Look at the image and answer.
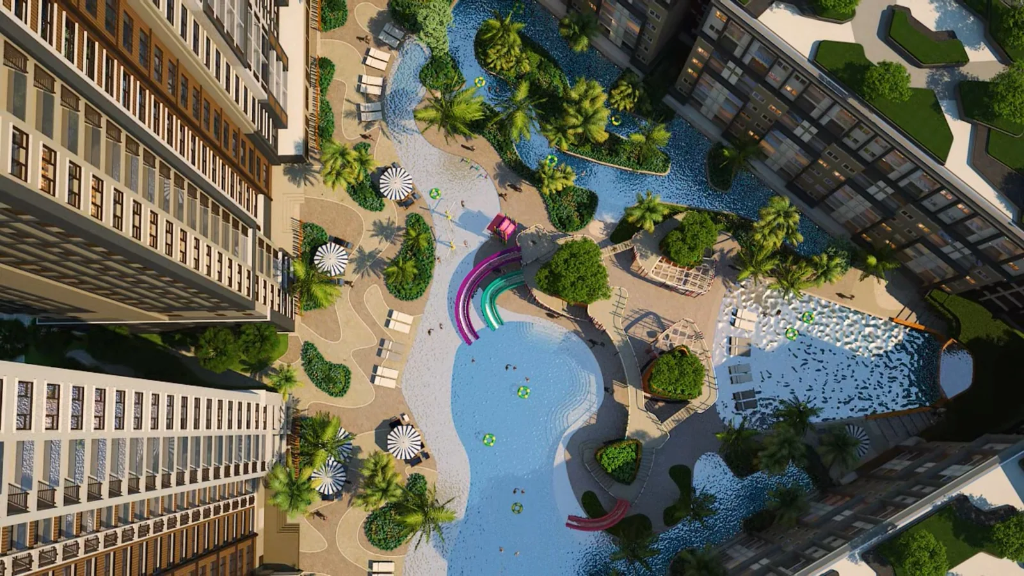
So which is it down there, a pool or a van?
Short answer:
pool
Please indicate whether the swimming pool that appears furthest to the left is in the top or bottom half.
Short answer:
bottom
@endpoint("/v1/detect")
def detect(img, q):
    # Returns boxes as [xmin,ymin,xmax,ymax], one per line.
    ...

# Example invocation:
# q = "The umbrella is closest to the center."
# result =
[379,168,414,202]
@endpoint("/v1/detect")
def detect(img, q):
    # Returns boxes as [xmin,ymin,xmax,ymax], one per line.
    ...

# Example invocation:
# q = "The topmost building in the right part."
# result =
[566,0,701,65]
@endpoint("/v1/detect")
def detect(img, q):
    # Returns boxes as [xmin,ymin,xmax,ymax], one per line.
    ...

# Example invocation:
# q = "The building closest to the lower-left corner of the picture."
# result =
[0,361,292,576]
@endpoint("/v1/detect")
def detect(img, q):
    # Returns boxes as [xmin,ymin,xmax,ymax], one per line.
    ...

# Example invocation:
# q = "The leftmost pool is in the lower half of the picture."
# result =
[447,321,621,576]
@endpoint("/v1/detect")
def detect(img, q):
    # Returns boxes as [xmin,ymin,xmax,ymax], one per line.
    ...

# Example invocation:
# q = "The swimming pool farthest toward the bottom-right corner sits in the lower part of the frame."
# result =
[942,341,975,399]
